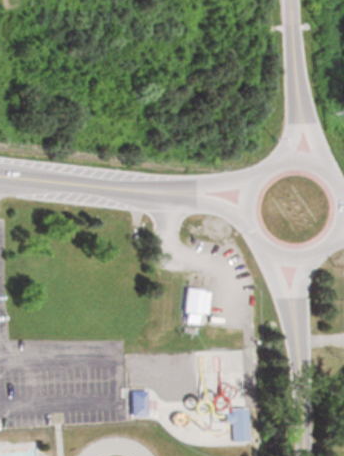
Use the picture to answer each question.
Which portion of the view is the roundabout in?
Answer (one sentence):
You can find the roundabout in the right area of the picture.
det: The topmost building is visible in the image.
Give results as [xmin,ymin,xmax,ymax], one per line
[187,288,213,316]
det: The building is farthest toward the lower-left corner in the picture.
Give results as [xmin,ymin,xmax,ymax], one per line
[133,390,150,416]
